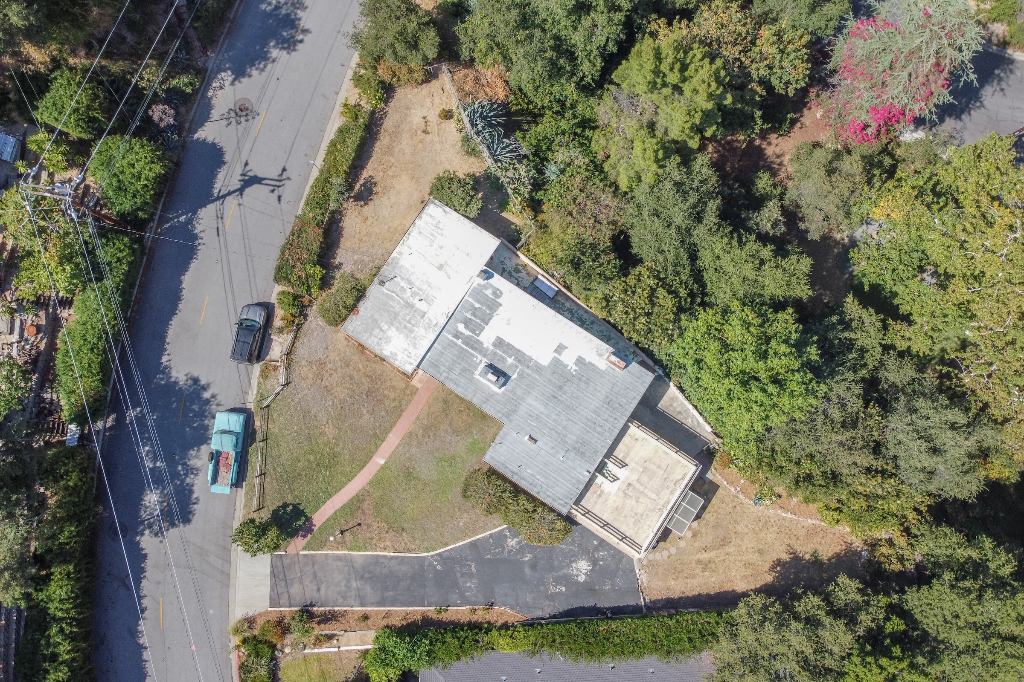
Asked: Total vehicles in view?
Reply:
2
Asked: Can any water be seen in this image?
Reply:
No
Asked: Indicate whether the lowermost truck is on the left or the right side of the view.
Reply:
left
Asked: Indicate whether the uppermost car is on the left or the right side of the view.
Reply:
left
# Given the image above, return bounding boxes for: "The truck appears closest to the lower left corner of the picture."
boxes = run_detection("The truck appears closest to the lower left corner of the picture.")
[208,408,250,493]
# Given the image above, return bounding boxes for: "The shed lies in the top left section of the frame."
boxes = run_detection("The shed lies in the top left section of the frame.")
[0,128,30,163]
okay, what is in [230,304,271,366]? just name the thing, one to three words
car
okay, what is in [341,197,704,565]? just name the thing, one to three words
house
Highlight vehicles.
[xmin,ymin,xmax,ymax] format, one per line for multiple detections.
[230,304,271,366]
[208,408,250,493]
